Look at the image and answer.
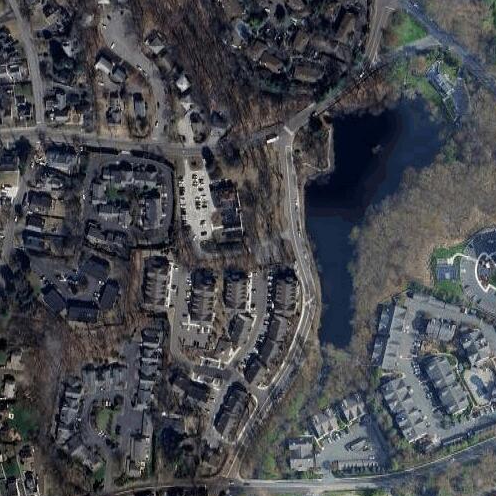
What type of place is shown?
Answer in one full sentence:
It's a residential area.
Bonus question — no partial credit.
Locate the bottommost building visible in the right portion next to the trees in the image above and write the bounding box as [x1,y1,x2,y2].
[289,440,314,471]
